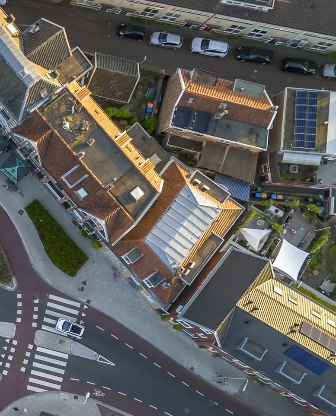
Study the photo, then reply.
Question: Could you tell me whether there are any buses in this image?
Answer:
No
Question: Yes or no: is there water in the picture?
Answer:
No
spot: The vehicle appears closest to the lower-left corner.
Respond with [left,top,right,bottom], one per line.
[54,317,90,339]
